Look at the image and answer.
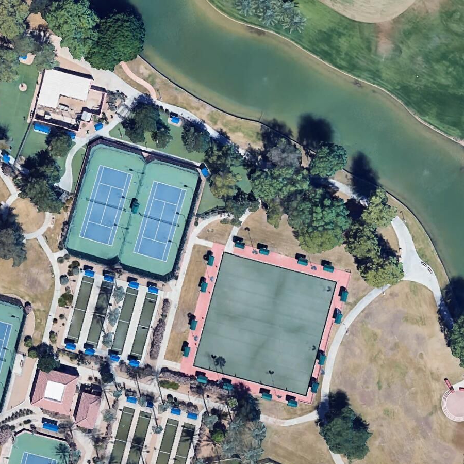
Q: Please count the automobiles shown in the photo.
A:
0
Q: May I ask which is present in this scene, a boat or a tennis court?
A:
tennis court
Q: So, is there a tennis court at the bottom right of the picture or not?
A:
No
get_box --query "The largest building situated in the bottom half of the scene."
[31,369,79,416]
